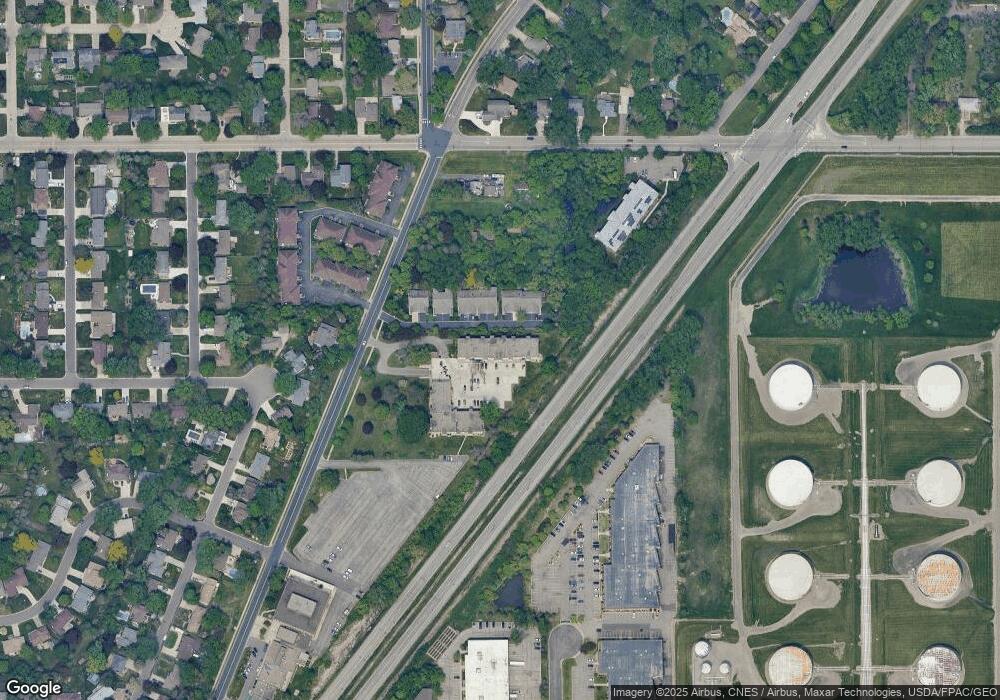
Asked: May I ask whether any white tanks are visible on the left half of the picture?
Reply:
No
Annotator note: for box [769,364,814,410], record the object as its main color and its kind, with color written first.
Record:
white storage tank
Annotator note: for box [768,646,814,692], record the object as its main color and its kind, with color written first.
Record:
white storage tank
